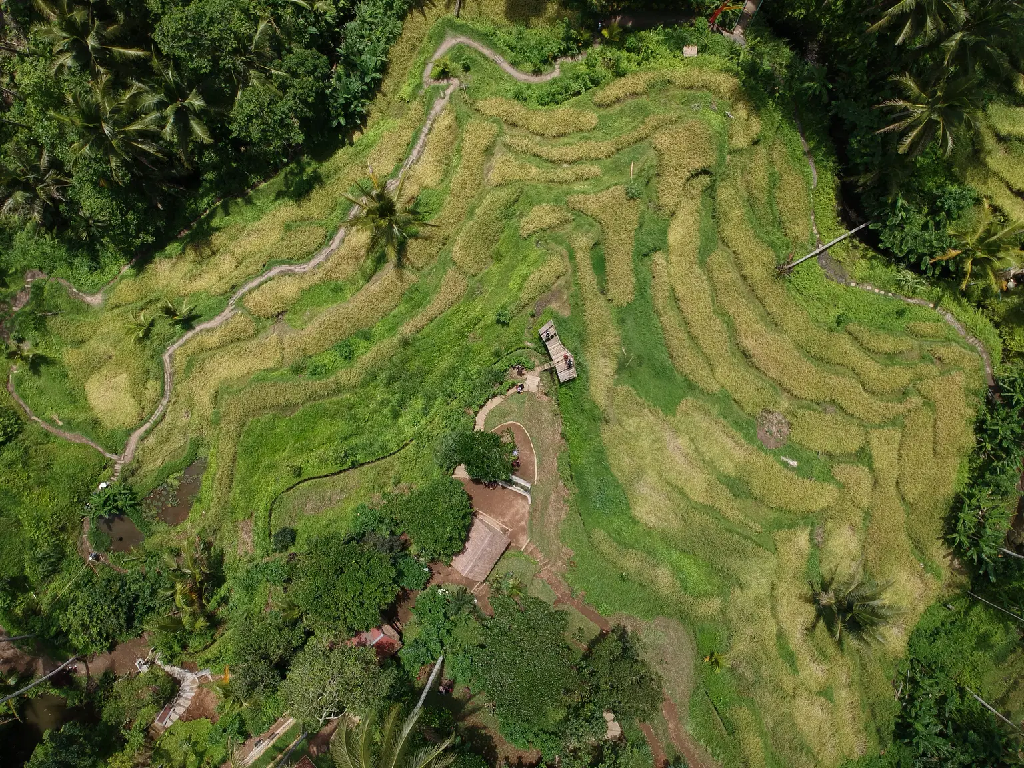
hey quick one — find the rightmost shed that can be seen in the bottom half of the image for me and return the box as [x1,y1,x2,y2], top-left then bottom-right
[449,514,512,582]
